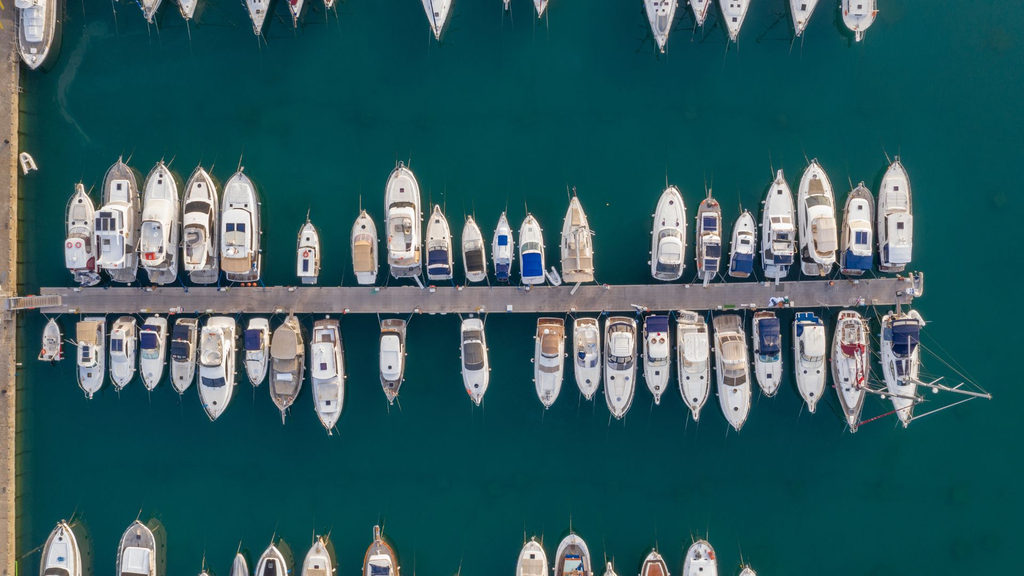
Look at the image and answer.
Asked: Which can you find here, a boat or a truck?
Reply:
boat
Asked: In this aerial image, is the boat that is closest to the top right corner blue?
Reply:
No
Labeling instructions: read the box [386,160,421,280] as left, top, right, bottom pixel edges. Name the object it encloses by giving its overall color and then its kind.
white boat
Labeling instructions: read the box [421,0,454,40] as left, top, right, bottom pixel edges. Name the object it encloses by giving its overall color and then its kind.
white boat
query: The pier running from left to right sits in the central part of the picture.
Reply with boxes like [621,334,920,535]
[39,276,913,314]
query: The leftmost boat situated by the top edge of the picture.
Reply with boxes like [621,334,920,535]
[6,0,67,69]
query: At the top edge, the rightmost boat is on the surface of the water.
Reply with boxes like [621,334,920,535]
[839,0,879,43]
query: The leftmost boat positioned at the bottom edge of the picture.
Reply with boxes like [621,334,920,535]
[38,521,88,576]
